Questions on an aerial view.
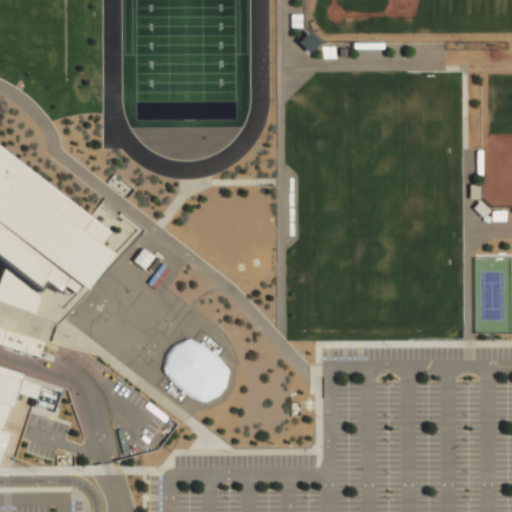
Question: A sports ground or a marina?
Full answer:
The picture captures a sports ground.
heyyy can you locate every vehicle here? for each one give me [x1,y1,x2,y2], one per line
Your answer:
[112,383,120,392]
[139,430,150,444]
[123,389,131,398]
[144,401,170,424]
[118,386,126,396]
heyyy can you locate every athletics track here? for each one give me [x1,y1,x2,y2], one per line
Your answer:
[104,0,269,180]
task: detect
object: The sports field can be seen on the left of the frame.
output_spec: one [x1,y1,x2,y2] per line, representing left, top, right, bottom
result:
[124,0,249,128]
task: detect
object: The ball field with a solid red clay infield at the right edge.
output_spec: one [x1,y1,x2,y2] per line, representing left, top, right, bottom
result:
[484,74,512,206]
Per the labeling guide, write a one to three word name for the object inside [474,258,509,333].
tennis court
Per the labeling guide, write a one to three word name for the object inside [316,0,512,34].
baseball field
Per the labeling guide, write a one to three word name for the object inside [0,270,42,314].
building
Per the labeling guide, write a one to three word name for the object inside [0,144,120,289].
building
